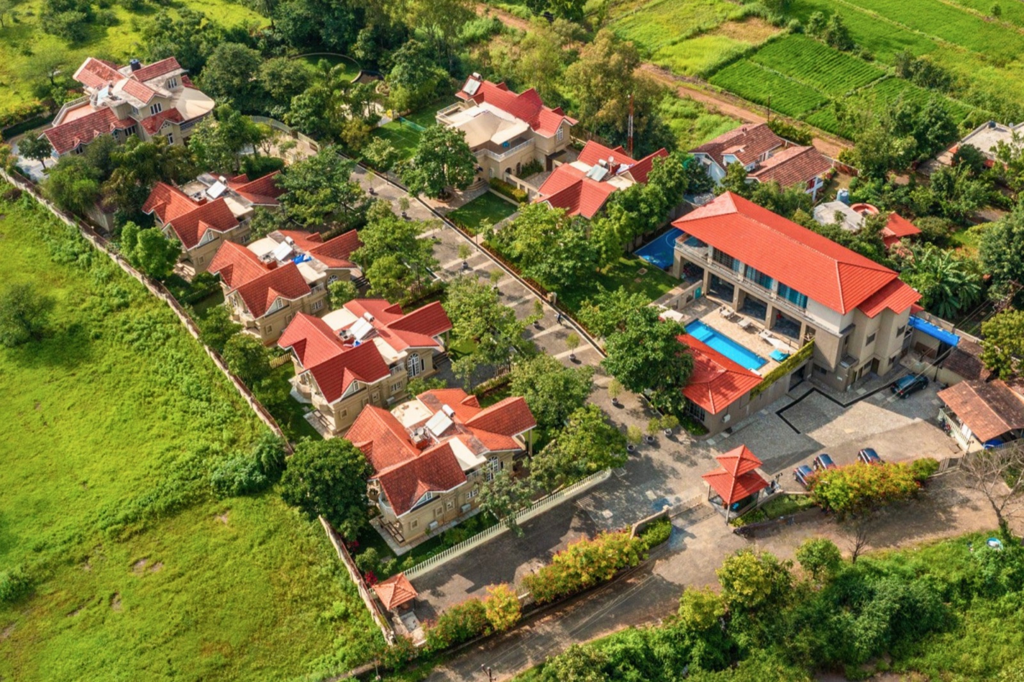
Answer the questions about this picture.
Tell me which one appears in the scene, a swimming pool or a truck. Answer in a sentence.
There is a swimming pool in the scene.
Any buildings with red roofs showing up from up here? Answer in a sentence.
Yes, the frame does contain a building with a red roof.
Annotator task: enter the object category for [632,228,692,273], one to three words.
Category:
sports court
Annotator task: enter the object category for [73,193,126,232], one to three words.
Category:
shed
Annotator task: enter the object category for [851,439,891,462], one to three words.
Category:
car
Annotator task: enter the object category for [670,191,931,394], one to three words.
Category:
building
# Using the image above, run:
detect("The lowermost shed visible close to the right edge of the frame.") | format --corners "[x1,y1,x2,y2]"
[934,379,1024,444]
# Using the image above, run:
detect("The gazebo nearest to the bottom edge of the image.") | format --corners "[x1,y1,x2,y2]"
[371,571,418,623]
